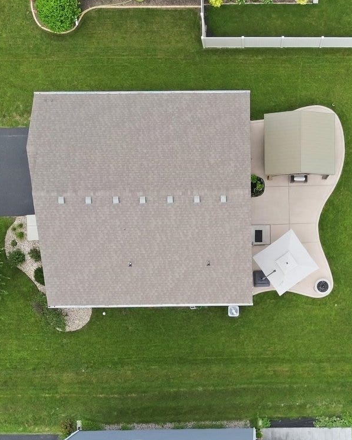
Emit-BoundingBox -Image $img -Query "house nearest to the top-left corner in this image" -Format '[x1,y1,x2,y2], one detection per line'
[24,90,251,308]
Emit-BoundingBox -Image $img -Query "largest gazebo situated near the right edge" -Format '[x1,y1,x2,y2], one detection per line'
[264,111,335,180]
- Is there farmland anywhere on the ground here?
No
